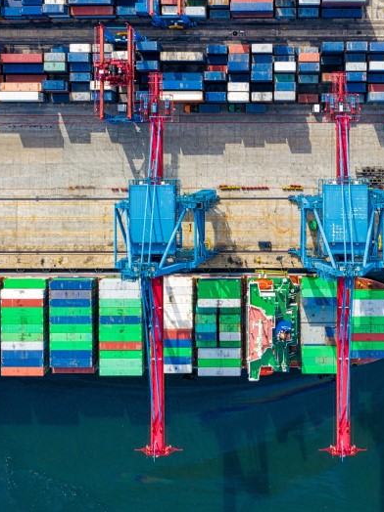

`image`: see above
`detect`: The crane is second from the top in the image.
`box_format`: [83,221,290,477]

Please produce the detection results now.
[96,22,153,122]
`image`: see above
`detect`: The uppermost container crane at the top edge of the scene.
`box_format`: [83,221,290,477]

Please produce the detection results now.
[146,0,199,29]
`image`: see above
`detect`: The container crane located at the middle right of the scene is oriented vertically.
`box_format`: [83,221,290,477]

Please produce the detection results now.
[289,72,384,462]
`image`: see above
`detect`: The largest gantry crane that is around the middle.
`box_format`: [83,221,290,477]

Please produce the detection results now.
[109,72,220,464]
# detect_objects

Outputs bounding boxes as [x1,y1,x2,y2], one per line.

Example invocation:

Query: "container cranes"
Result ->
[146,0,199,29]
[109,72,220,464]
[96,22,153,122]
[289,72,384,462]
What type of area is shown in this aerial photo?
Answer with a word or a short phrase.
port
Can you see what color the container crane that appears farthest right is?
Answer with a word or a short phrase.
blue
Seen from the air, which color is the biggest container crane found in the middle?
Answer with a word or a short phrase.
blue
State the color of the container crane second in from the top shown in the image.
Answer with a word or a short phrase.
red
